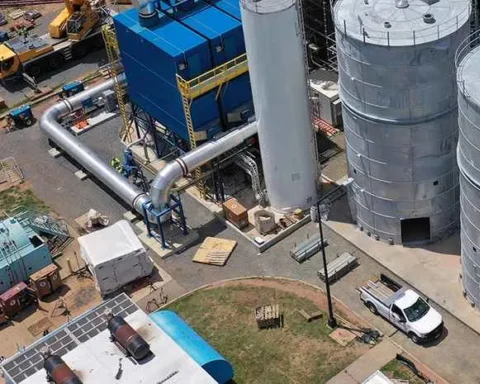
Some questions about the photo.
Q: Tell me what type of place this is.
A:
industrial area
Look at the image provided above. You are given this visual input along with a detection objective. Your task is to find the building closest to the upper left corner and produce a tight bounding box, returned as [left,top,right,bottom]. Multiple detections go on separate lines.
[96,0,258,183]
